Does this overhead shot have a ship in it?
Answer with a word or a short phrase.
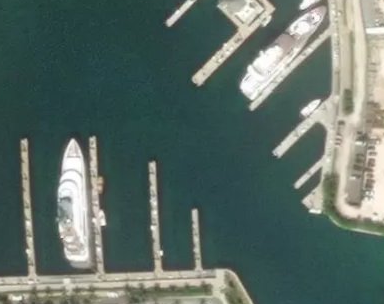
Yes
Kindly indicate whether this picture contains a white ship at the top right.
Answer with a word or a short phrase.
Yes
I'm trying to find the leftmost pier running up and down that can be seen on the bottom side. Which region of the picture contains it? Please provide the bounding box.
[21,138,37,273]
